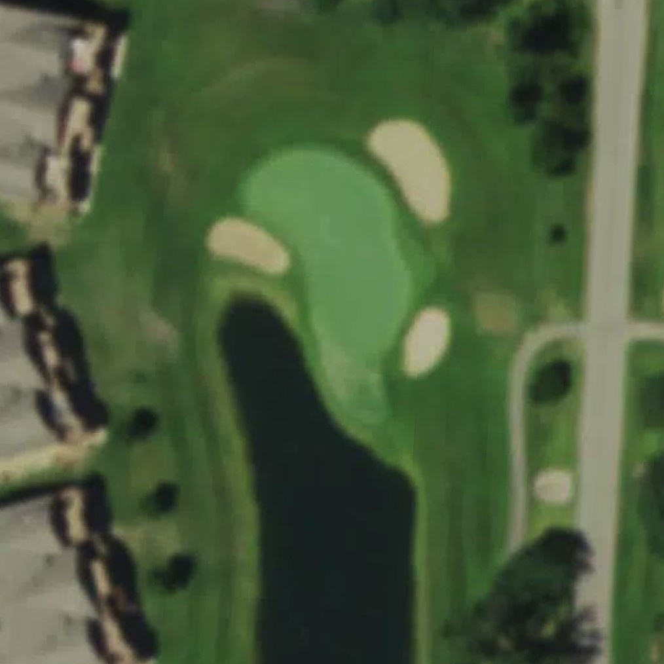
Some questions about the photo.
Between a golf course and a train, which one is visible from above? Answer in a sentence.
I can see a golf course in this picture.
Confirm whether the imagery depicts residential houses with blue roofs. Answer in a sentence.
No, the frame has no residential house with a blue roof in it.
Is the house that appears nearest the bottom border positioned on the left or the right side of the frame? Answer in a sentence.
The house that appears nearest the bottom border is on the left side of the image.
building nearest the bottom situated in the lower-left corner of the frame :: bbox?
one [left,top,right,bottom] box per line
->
[0,485,132,664]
